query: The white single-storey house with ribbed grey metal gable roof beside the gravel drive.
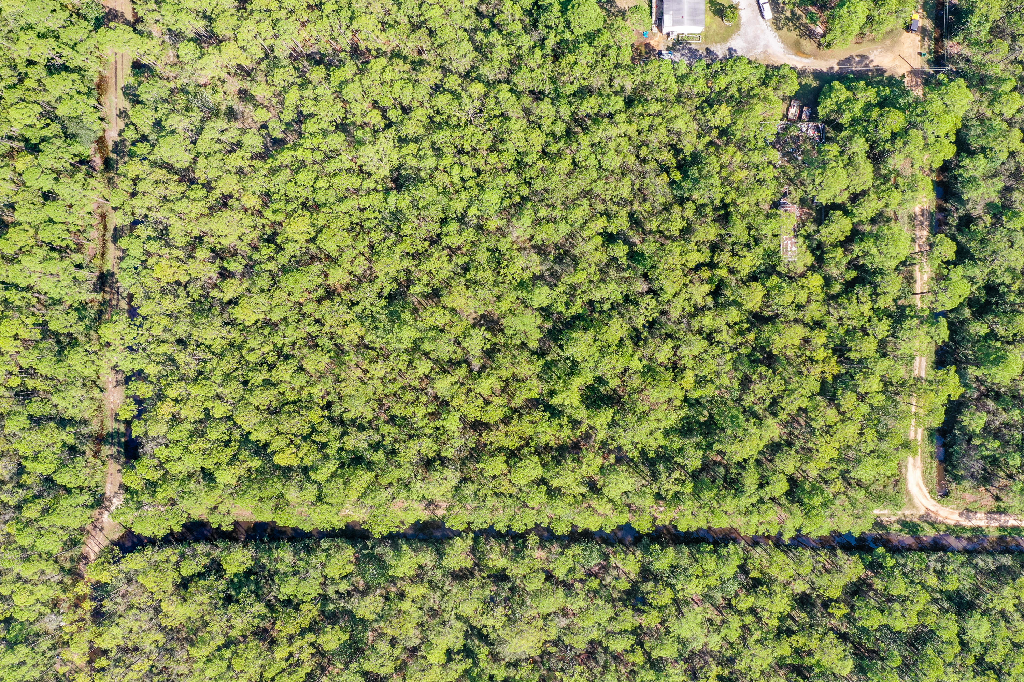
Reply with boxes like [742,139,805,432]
[661,0,705,31]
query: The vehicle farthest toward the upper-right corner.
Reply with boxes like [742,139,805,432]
[907,13,921,34]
